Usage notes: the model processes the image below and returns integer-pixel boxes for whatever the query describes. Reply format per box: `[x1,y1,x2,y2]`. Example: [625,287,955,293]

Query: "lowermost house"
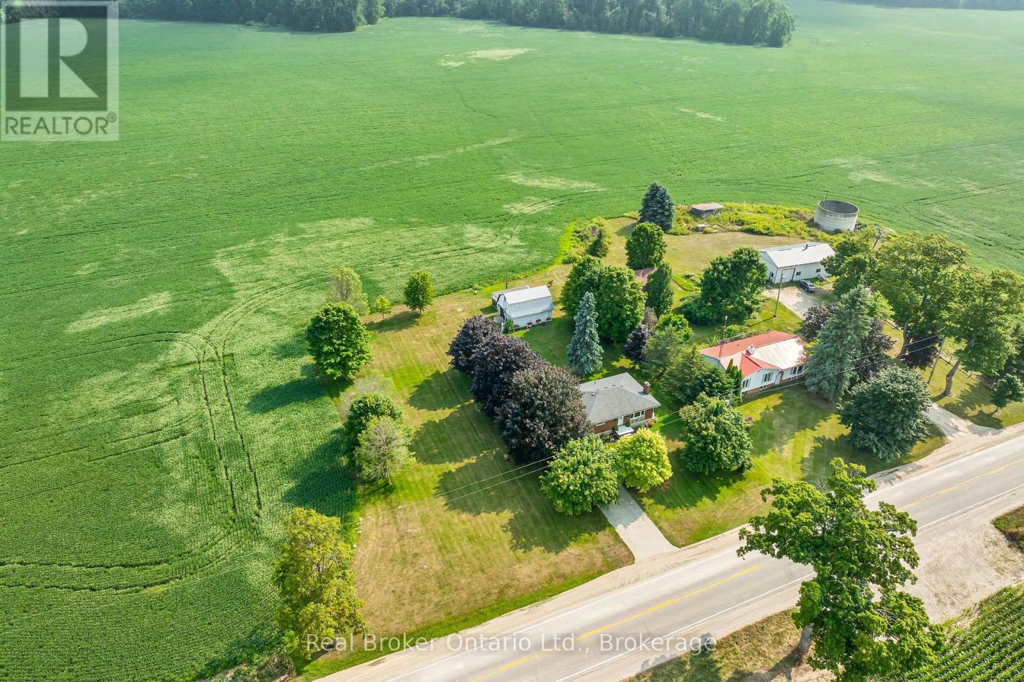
[577,373,661,439]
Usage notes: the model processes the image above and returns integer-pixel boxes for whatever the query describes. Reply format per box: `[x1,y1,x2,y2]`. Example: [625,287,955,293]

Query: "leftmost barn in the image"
[492,286,556,328]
